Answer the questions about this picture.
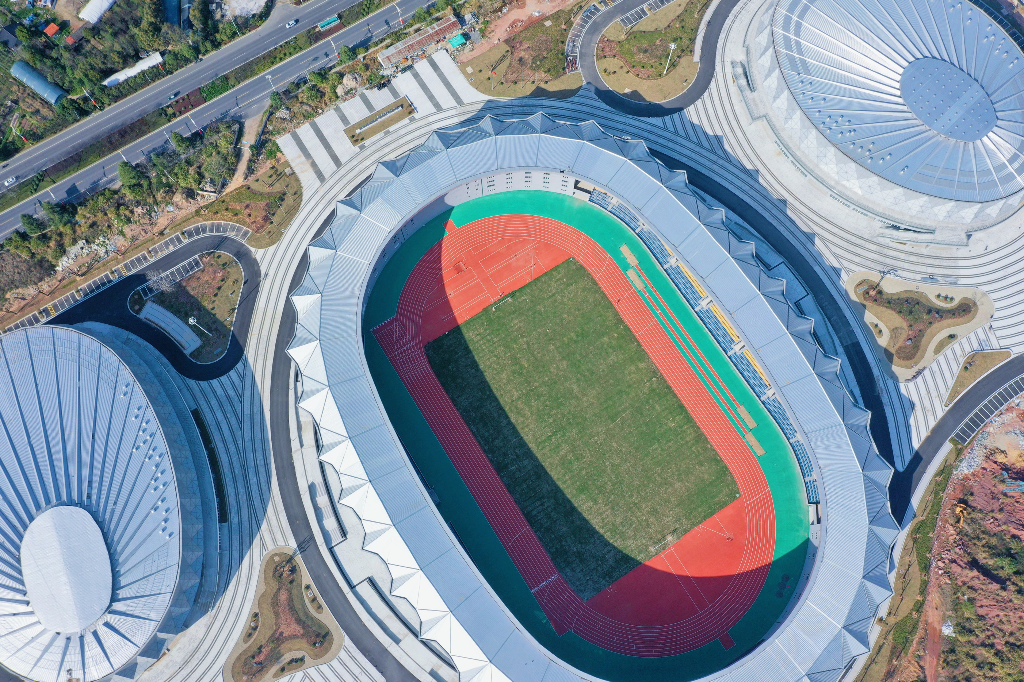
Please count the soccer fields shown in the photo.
1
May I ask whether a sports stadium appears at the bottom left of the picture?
Yes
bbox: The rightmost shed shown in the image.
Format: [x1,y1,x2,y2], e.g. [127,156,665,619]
[378,15,461,69]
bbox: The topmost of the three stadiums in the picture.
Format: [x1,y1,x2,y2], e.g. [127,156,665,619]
[729,0,1024,250]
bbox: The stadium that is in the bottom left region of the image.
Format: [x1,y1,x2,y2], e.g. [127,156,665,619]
[0,321,223,682]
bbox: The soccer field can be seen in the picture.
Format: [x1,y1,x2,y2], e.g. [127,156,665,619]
[424,257,741,602]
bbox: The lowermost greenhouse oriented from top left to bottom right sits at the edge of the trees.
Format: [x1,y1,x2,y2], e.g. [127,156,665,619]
[11,61,68,107]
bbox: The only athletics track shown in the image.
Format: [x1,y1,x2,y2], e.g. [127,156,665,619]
[362,188,811,682]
